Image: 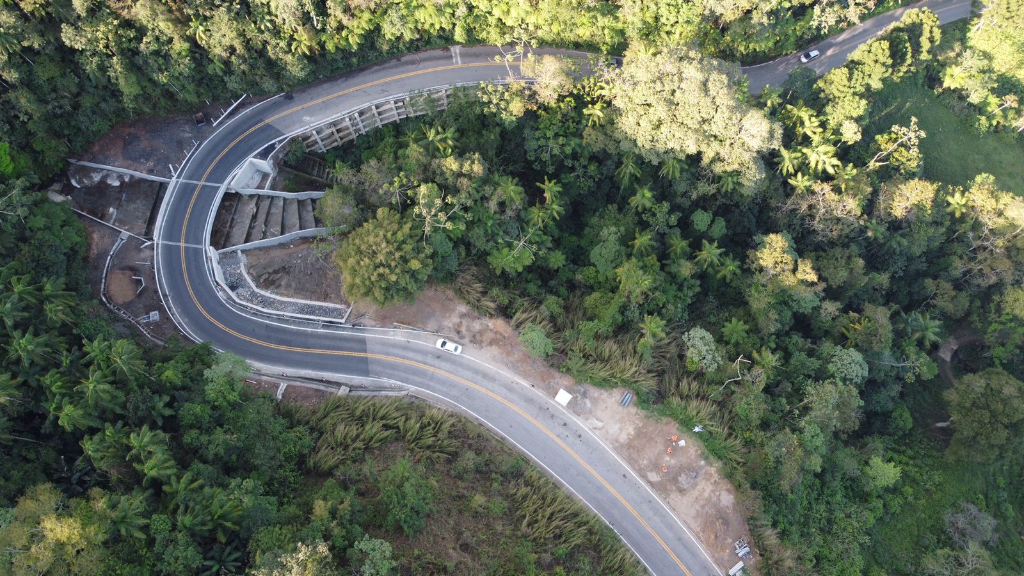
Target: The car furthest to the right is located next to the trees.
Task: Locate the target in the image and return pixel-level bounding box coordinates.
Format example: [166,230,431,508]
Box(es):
[801,47,821,62]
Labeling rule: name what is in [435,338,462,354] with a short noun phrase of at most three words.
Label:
car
